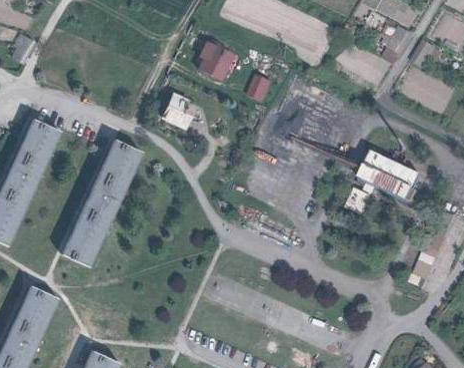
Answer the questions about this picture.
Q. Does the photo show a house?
Yes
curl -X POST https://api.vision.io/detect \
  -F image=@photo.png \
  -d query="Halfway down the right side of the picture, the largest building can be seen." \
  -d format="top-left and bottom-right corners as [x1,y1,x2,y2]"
[356,150,418,201]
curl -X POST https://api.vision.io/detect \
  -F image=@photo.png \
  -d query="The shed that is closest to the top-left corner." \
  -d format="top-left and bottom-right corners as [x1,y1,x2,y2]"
[11,34,35,65]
